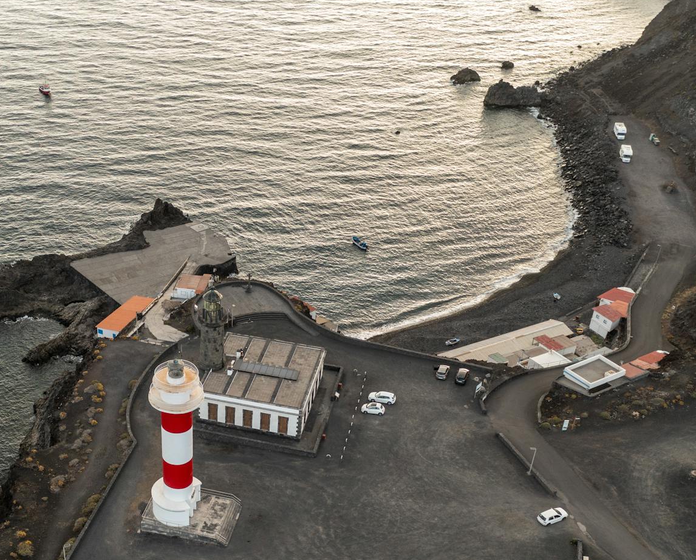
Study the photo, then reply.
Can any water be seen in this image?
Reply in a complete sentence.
Yes, water can be seen from above here.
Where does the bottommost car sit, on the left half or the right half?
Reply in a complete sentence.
The bottommost car sits on the right side.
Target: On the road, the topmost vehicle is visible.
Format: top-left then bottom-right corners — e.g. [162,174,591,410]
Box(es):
[616,120,628,138]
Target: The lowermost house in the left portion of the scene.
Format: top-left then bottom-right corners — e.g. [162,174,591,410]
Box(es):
[197,334,325,437]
